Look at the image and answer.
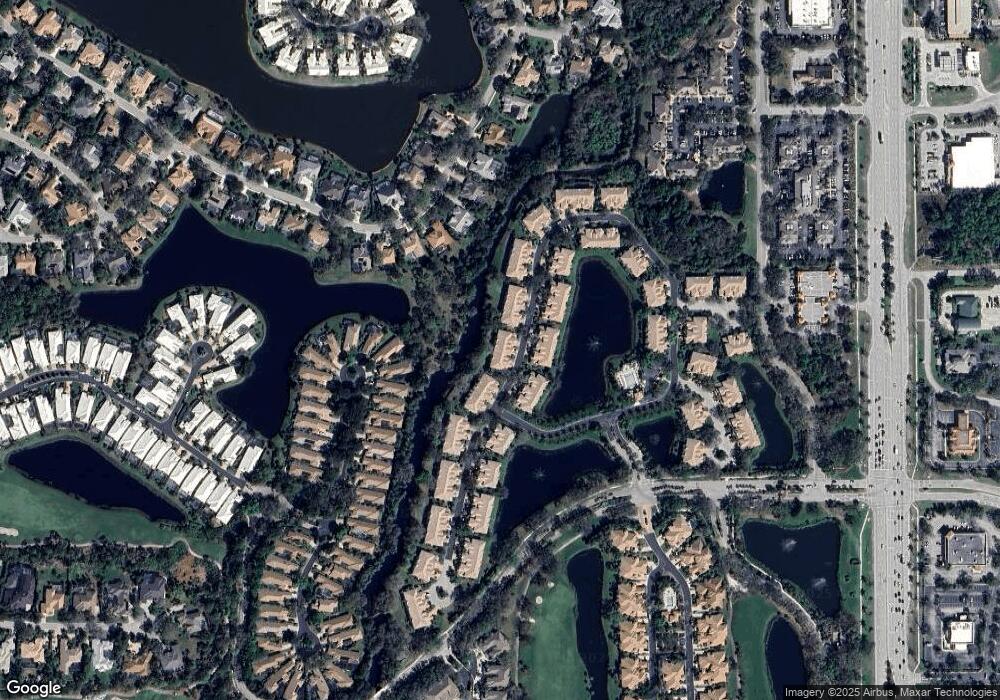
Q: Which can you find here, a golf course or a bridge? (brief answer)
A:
golf course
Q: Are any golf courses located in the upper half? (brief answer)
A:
No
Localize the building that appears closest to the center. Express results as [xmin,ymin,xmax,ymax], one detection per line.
[488,327,521,372]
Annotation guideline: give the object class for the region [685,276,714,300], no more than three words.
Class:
building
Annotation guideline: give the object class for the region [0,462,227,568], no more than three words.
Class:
golf course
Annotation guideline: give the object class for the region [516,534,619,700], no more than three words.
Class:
golf course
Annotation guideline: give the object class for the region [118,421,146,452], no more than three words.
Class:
house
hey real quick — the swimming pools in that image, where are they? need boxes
[663,588,677,609]
[618,366,640,390]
